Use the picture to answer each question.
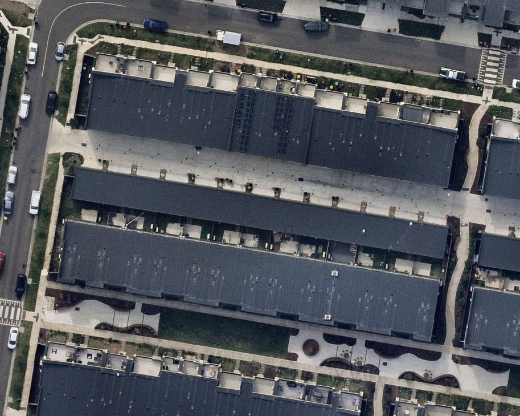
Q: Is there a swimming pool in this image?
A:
No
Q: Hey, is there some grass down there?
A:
Yes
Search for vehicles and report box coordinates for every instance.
[511,79,520,90]
[2,191,14,216]
[27,42,38,65]
[54,42,65,62]
[215,31,241,46]
[45,90,57,114]
[6,166,17,186]
[6,326,18,350]
[17,94,31,120]
[29,190,40,215]
[303,20,329,33]
[14,274,26,295]
[142,18,169,31]
[255,13,279,25]
[439,68,467,81]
